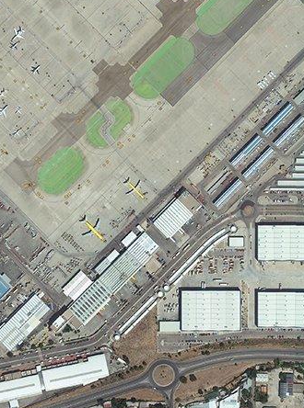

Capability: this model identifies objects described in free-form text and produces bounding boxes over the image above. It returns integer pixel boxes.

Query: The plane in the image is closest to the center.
[123,177,144,198]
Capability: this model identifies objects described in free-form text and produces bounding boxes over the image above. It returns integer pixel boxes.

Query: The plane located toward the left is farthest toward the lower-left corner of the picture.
[80,215,104,241]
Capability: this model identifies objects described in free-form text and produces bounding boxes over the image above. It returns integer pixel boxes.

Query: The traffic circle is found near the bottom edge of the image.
[147,358,180,391]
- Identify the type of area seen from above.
airport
